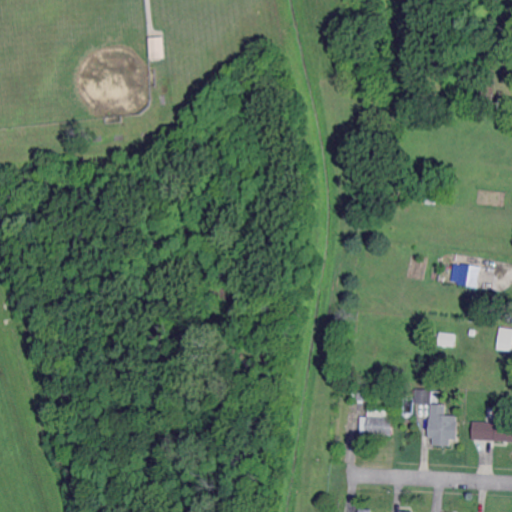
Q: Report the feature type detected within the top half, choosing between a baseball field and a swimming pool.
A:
baseball field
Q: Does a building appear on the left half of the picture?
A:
No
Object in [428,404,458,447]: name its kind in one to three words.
house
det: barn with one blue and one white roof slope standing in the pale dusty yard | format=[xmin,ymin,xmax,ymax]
[450,263,482,290]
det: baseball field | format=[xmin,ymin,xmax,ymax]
[76,45,150,117]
